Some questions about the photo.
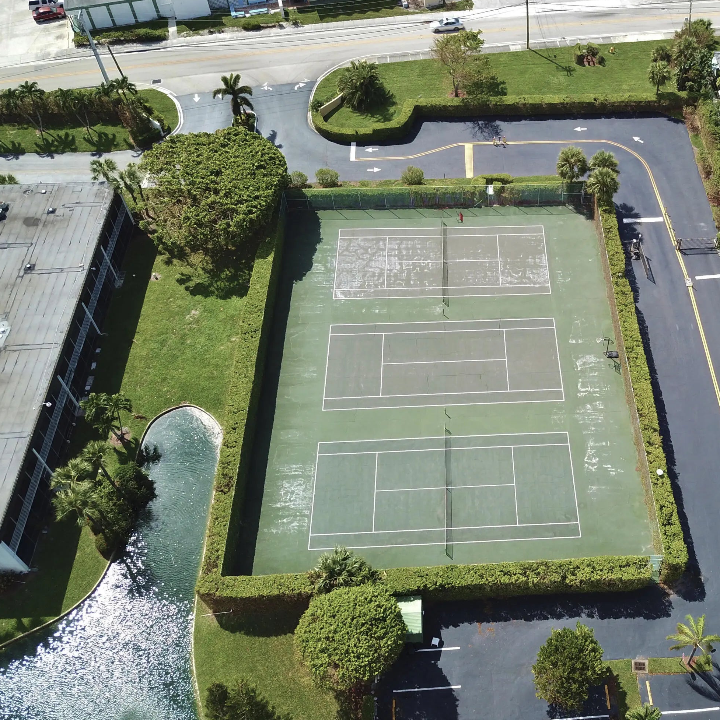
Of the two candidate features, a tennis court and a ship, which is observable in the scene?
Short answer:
tennis court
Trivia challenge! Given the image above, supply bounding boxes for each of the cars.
[431,18,463,35]
[26,0,62,11]
[31,5,64,22]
